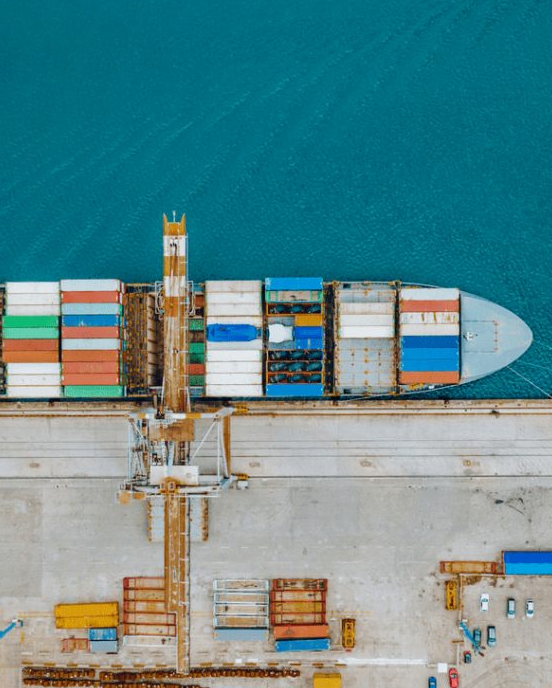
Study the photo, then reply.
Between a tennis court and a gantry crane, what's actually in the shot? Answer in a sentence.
There is a gantry crane in the scene.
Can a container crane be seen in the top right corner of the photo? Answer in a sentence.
No, the scene shows no container crane in the top right corner of the photo.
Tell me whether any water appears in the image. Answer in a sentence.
Yes, there is water in the image.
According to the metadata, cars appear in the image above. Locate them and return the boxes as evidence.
[507,598,515,618]
[473,628,482,646]
[525,599,534,617]
[487,625,496,647]
[449,668,458,688]
[428,676,436,688]
[480,592,489,612]
[463,650,471,664]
